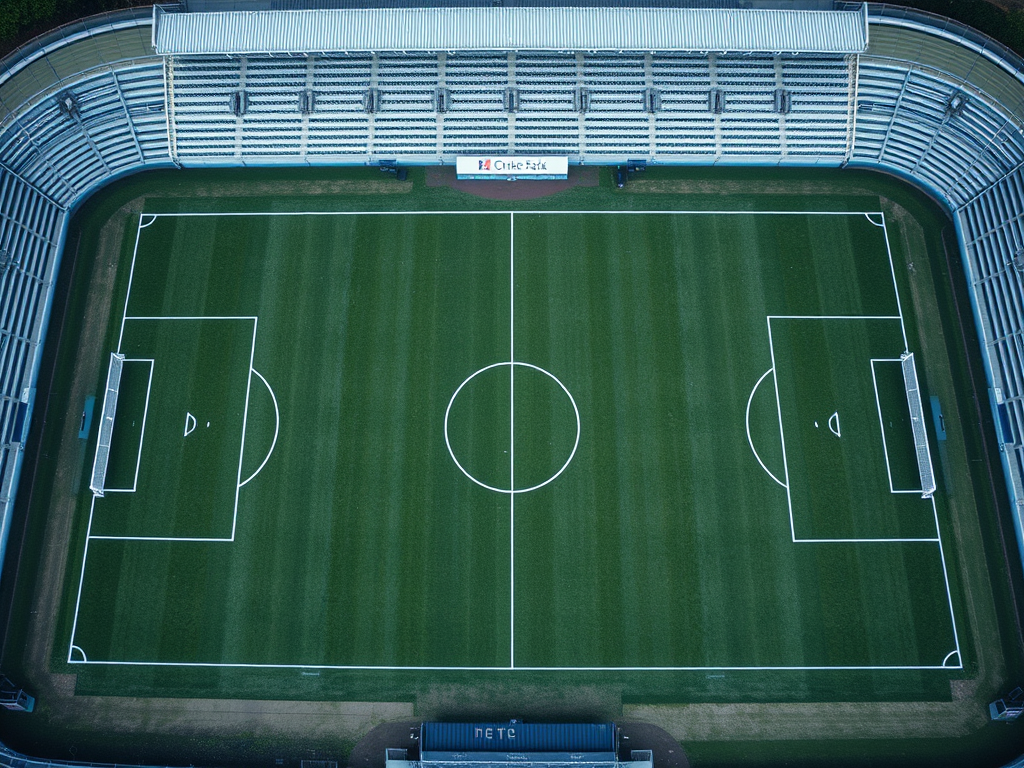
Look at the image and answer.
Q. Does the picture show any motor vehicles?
No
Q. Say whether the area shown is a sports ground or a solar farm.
sports ground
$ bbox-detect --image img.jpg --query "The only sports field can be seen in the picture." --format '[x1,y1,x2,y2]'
[64,211,962,669]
